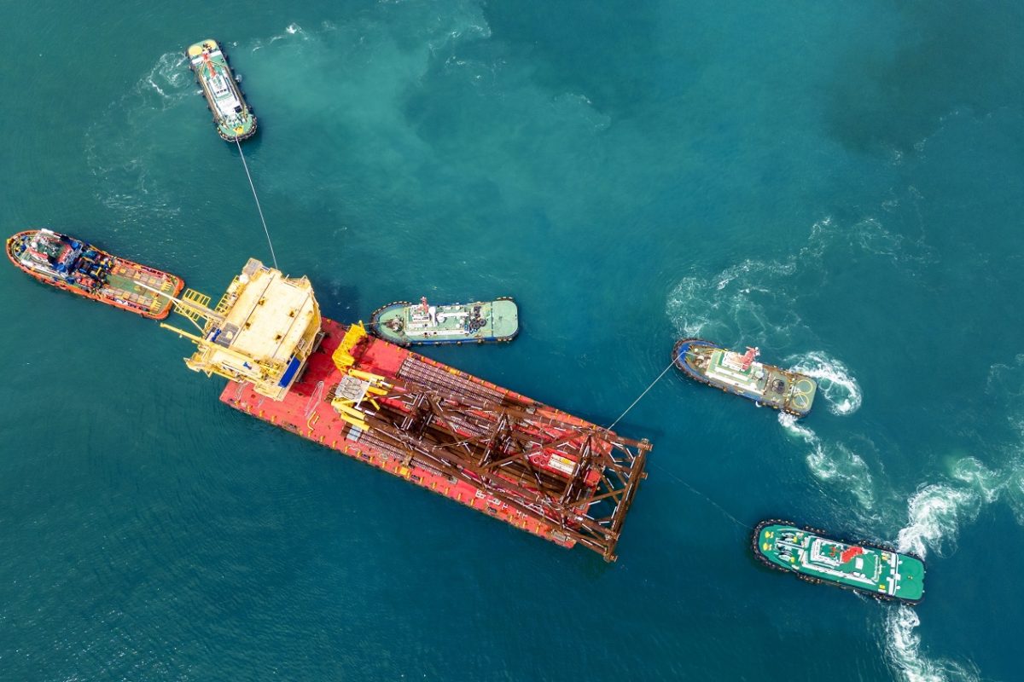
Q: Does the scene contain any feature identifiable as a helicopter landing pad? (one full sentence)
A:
No, I find no helicopter landing pad anywhere in the image.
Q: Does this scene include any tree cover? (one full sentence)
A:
No, there is no tree cover in the image.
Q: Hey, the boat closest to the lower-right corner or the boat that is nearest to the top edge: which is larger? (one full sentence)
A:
The boat closest to the lower-right corner takes up more space than the boat that is nearest to the top edge.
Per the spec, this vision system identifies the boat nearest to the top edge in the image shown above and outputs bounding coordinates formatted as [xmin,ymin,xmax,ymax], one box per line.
[189,35,256,143]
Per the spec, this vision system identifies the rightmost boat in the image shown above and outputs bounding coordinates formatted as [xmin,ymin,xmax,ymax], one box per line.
[750,520,926,606]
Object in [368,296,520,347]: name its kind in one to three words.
boat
